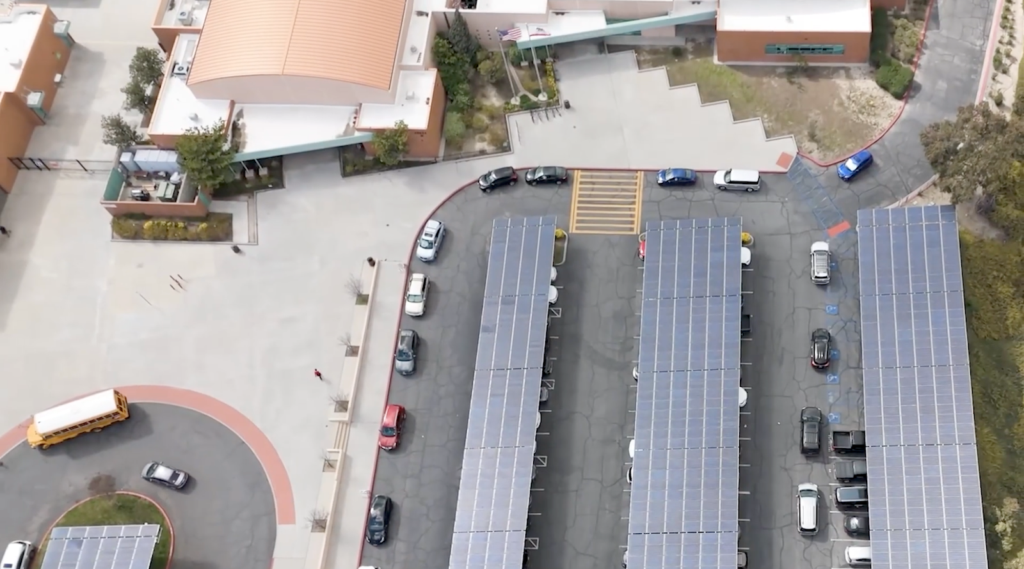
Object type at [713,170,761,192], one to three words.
vehicle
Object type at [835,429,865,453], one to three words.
truck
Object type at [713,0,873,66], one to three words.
building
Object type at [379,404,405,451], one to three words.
car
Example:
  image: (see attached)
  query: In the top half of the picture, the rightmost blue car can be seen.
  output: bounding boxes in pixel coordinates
[834,148,879,182]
